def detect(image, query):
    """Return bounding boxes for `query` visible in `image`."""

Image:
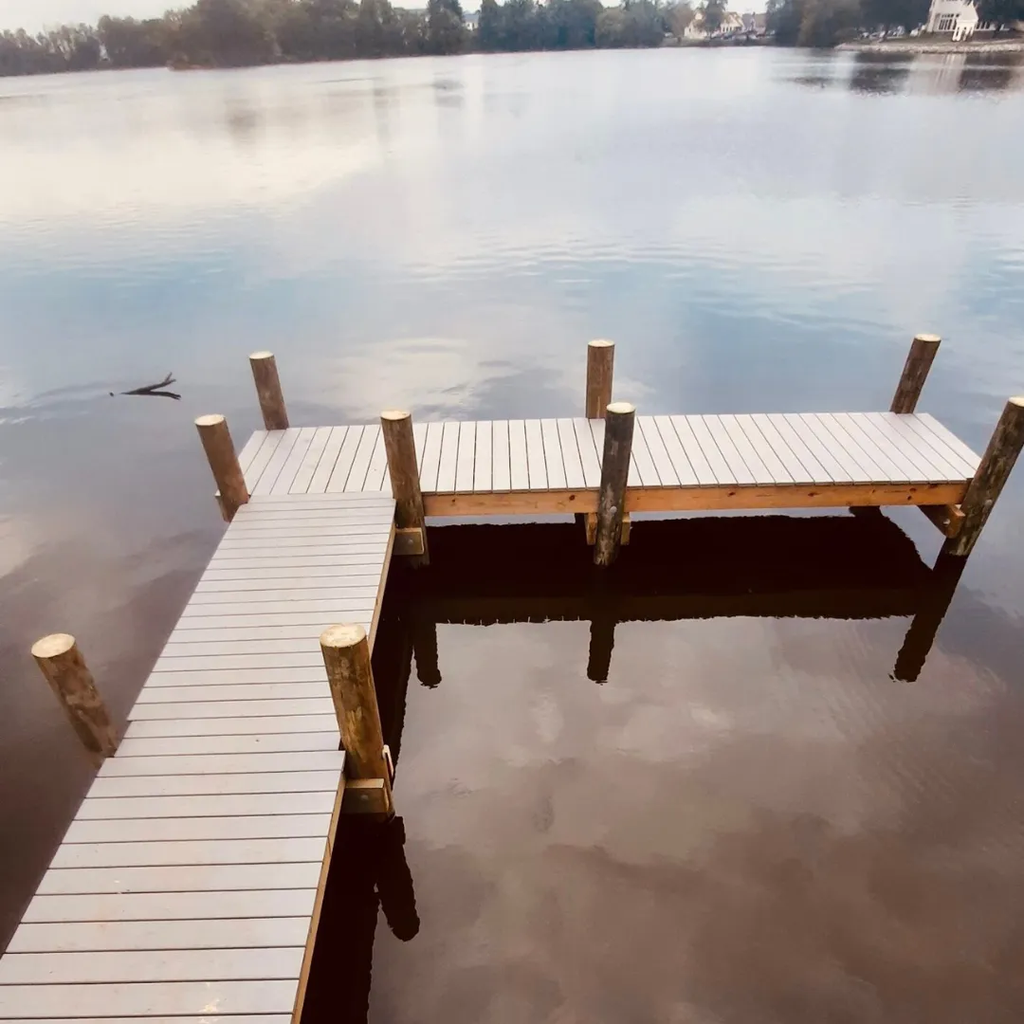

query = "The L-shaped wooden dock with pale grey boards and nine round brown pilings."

[0,333,1024,1024]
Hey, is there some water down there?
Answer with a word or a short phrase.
Yes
